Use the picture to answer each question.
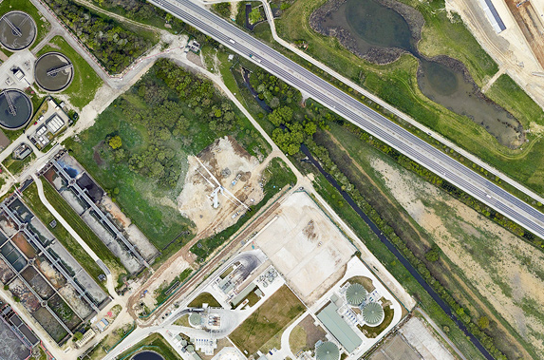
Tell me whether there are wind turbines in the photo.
Yes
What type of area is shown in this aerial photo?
industrial area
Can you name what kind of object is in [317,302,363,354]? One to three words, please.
building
